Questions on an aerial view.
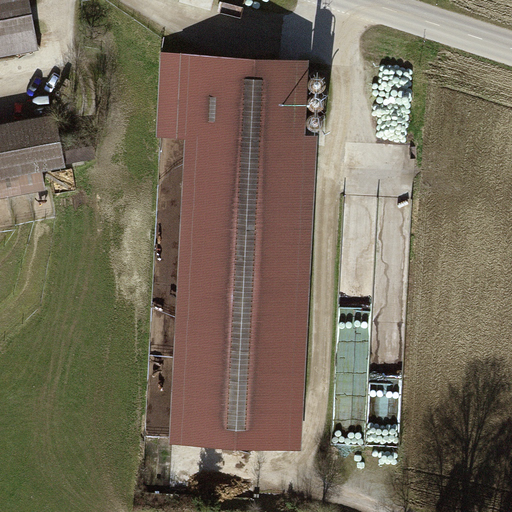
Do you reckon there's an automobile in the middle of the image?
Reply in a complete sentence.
No, there's no automobile to be seen in the middle of the image.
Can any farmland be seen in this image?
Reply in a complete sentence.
Yes, the picture does contain farmland.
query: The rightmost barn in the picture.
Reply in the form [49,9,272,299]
[156,54,318,452]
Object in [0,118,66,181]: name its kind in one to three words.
house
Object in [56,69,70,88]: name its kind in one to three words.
car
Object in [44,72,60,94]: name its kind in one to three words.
car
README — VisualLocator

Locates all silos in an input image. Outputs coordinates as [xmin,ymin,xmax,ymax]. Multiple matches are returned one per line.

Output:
[304,111,327,134]
[305,72,329,96]
[306,92,328,114]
